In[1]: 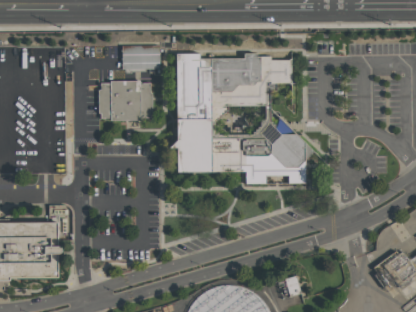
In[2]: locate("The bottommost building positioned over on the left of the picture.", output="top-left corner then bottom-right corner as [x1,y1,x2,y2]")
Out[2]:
[0,222,62,282]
